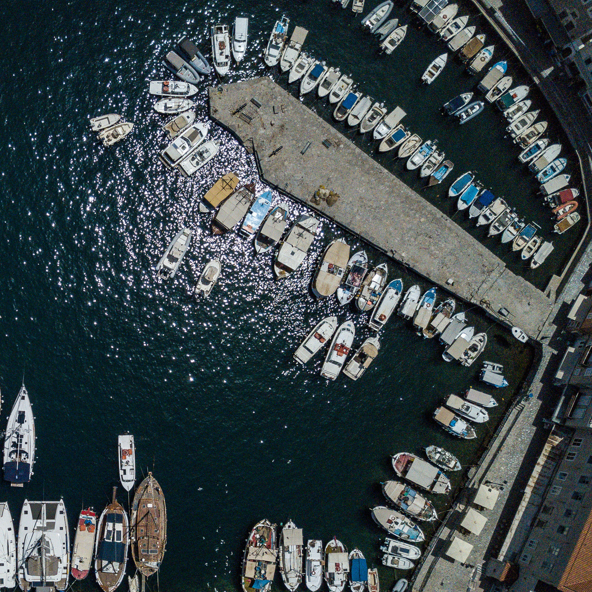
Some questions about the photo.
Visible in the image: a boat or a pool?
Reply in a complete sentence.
The image shows a boat.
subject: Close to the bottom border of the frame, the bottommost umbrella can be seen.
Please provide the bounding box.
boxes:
[446,536,473,565]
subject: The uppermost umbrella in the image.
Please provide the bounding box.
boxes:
[473,485,498,509]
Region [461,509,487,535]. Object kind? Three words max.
umbrella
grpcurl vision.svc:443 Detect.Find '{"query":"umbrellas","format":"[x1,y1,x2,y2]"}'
[473,485,498,509]
[461,509,487,535]
[446,536,473,565]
